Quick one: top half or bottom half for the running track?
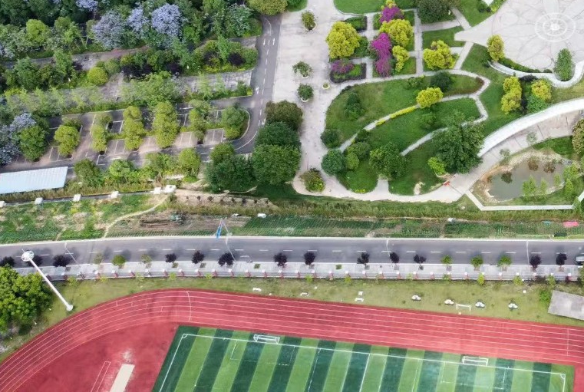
bottom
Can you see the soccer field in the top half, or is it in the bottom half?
bottom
